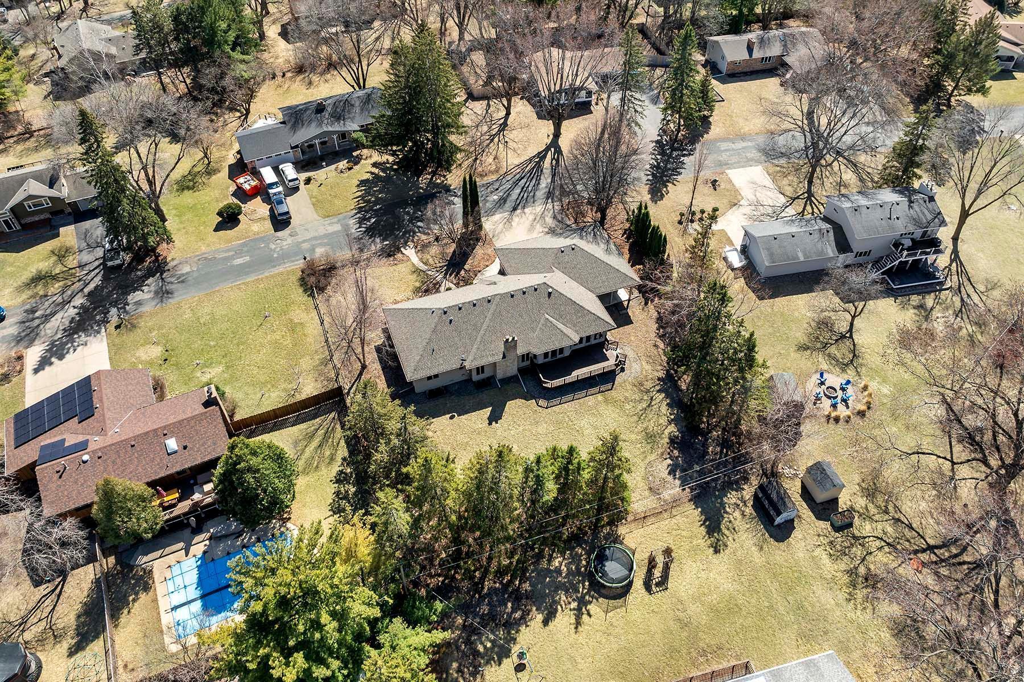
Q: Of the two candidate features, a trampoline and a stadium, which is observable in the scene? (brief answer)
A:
trampoline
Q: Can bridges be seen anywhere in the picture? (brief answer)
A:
No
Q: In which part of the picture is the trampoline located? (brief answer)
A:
bottom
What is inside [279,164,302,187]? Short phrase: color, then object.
white car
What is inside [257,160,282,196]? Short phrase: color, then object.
white vehicle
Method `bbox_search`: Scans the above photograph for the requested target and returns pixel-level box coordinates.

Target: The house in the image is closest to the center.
[382,222,643,404]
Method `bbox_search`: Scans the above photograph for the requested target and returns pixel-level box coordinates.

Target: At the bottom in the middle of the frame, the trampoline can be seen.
[589,538,638,595]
